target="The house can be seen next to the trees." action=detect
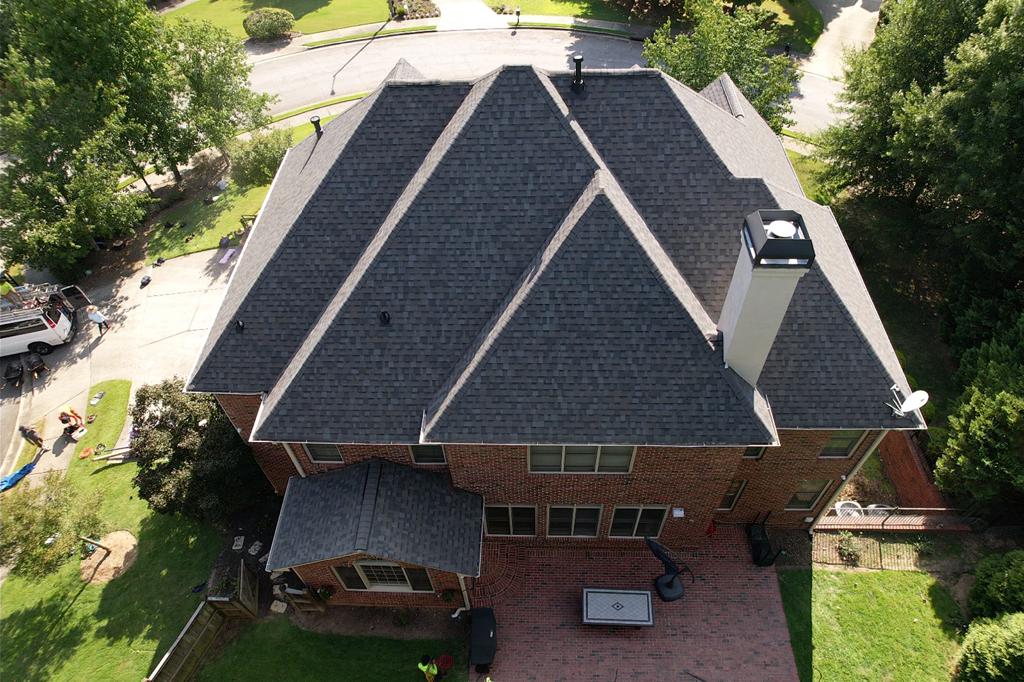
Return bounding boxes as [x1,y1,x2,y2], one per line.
[185,56,930,621]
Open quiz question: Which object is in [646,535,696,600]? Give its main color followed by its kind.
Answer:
black umbrella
